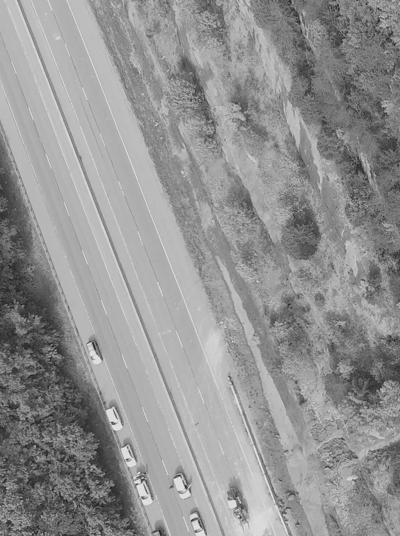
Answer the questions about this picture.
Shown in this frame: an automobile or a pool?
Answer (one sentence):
It is an automobile that can be seen here.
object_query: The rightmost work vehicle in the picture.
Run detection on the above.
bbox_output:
[228,491,250,529]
